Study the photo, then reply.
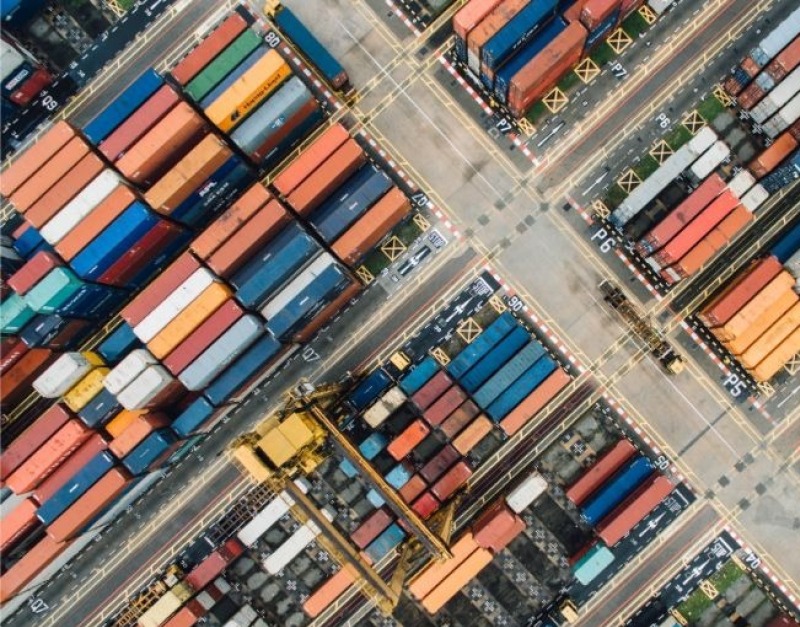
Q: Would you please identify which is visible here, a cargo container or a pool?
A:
cargo container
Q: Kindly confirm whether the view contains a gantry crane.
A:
Yes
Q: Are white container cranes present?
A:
No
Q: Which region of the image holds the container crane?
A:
bottom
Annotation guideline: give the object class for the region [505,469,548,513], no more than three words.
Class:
shipping container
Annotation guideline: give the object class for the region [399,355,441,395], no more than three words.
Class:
shipping container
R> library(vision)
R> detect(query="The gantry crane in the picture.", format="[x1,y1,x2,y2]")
[235,377,463,614]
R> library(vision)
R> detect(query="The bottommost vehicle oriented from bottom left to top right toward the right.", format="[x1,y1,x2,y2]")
[531,583,589,627]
